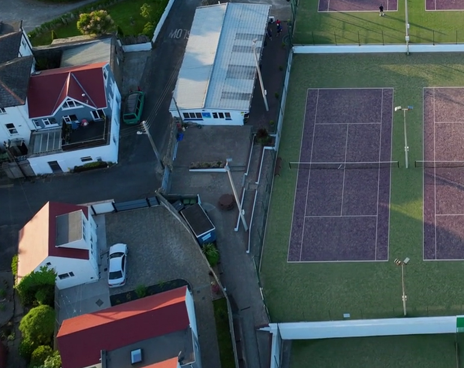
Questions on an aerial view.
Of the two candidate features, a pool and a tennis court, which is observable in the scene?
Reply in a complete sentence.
The image shows a tennis court.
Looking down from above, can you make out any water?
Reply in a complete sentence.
No, water can't be seen anywhere here.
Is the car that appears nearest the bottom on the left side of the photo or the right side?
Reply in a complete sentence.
It is on the left.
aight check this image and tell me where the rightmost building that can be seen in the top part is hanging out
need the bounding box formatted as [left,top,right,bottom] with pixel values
[169,1,270,125]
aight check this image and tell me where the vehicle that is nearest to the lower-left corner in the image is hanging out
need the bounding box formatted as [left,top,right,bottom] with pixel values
[106,245,127,287]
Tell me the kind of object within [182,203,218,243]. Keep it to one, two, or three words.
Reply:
shed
